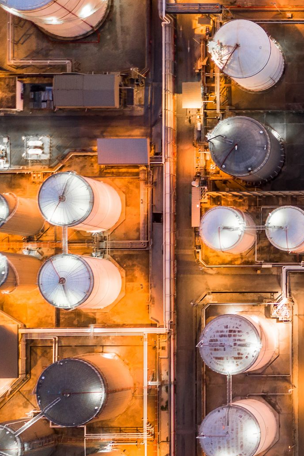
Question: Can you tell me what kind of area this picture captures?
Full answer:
It's an industrial area.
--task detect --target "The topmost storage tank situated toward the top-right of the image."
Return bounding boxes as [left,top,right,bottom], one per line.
[208,19,285,91]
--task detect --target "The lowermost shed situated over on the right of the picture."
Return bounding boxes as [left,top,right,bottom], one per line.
[191,188,205,227]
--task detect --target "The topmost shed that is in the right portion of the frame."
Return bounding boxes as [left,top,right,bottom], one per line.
[182,82,207,112]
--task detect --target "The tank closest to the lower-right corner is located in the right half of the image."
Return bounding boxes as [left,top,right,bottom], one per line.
[197,396,279,456]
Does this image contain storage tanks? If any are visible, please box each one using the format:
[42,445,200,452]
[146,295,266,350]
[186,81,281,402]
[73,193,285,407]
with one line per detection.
[0,415,59,456]
[269,205,304,255]
[197,396,279,456]
[0,193,44,236]
[0,253,43,293]
[202,205,263,255]
[36,352,135,426]
[208,19,285,91]
[36,171,125,235]
[208,115,284,183]
[0,0,108,36]
[197,311,279,375]
[36,254,125,311]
